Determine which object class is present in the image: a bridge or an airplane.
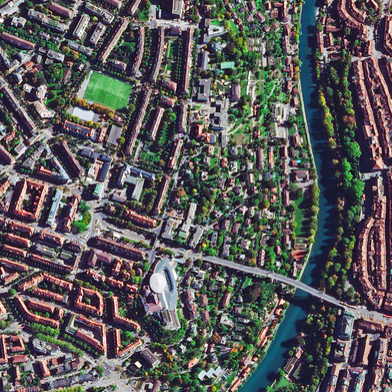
bridge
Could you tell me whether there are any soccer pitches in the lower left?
No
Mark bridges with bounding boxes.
[194,251,371,317]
